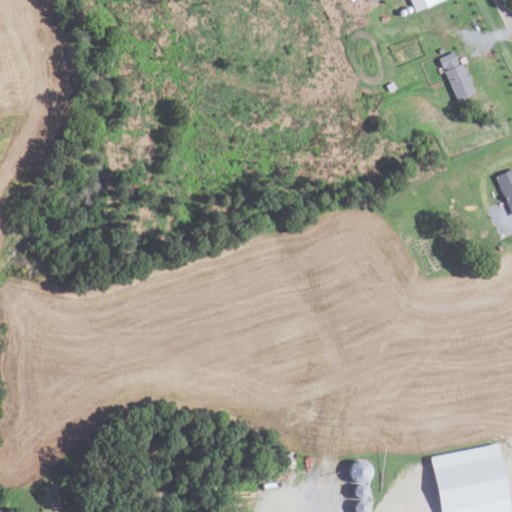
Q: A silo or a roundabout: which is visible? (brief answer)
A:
silo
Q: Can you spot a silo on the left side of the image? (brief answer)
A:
No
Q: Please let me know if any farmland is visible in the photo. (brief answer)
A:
Yes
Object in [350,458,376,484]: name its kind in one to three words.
silo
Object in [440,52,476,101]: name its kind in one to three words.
house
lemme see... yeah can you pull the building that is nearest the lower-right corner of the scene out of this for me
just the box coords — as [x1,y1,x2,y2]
[432,442,512,512]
